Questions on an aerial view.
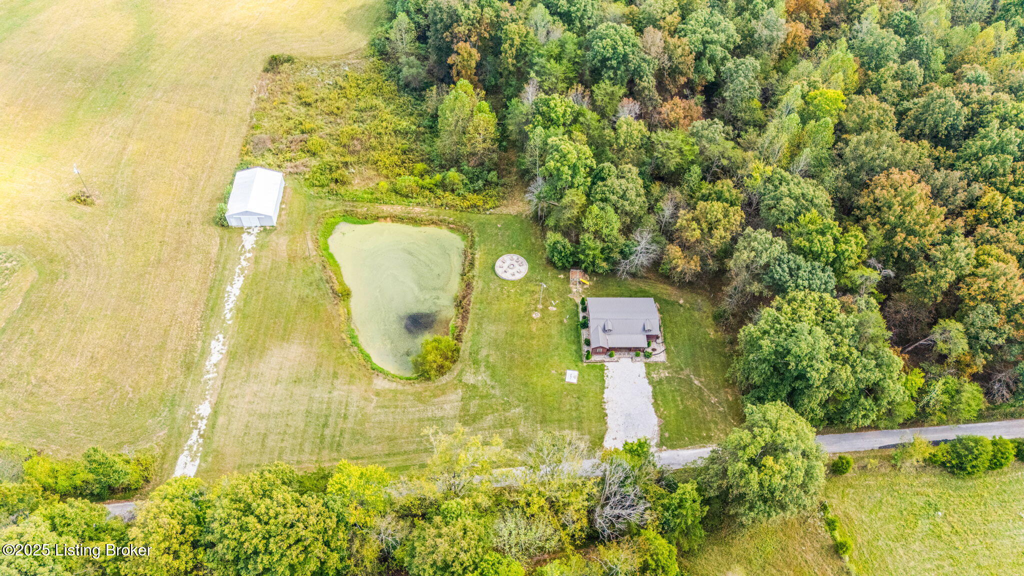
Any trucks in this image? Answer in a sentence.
No, I can't see a single truck in this photo.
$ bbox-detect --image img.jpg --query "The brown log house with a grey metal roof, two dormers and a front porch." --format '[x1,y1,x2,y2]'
[587,298,660,355]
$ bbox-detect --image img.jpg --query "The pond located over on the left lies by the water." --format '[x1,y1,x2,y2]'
[327,222,465,377]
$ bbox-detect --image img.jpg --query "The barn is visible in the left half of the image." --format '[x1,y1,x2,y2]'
[224,166,285,227]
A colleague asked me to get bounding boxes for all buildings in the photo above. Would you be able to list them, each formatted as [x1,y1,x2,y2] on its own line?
[587,298,660,355]
[224,166,285,227]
